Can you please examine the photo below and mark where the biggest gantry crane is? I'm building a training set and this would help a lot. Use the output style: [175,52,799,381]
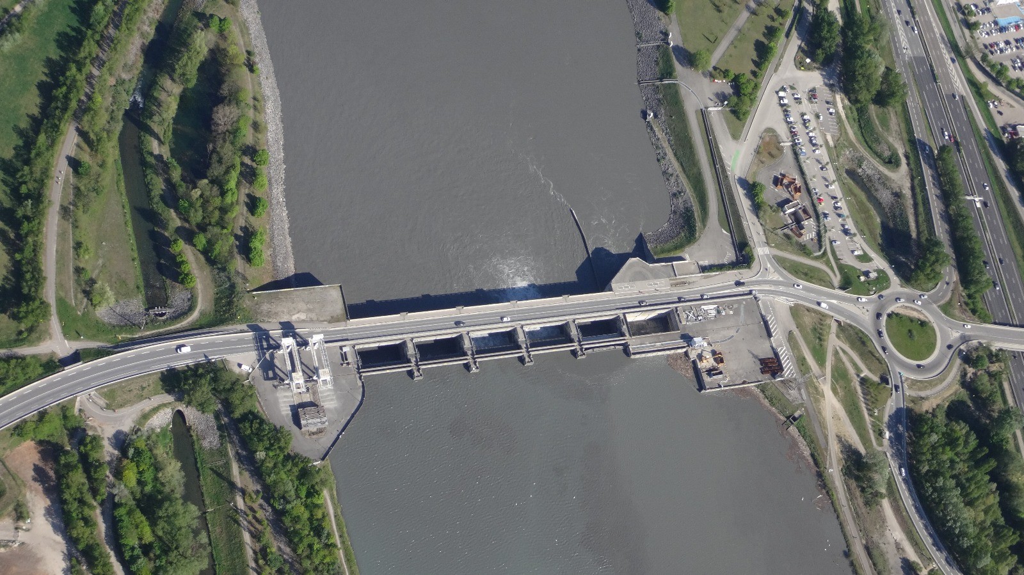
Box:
[268,332,334,393]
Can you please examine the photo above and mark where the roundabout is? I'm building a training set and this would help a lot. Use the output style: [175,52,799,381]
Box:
[856,287,968,379]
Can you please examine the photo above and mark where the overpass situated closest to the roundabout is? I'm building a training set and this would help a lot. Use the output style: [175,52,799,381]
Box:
[959,320,1024,348]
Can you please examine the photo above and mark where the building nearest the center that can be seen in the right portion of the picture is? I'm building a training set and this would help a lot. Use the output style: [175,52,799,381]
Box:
[602,256,677,294]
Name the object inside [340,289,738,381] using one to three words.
dam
